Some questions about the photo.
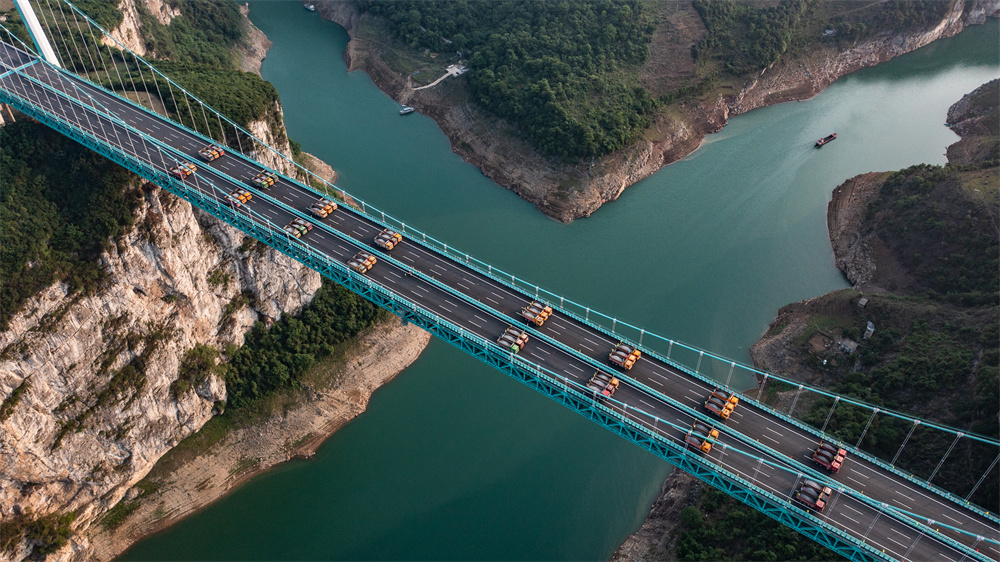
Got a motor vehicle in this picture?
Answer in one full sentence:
Yes, the frame does contain a motor vehicle.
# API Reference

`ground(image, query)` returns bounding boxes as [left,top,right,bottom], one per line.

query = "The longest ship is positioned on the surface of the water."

[812,131,838,148]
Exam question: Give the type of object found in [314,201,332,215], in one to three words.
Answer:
vehicle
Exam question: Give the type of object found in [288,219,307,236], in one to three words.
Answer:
vehicle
